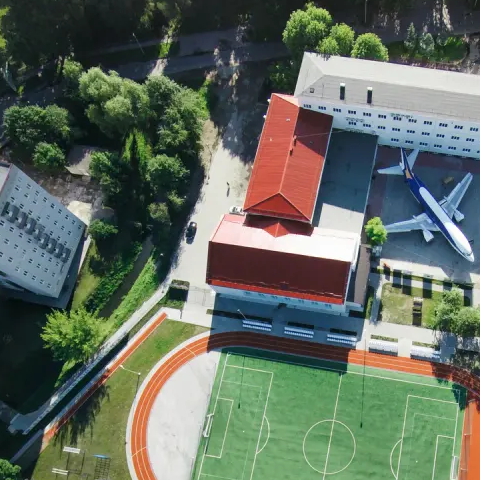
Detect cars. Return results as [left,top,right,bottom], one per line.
[227,203,244,215]
[184,221,197,240]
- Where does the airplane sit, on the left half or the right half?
right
